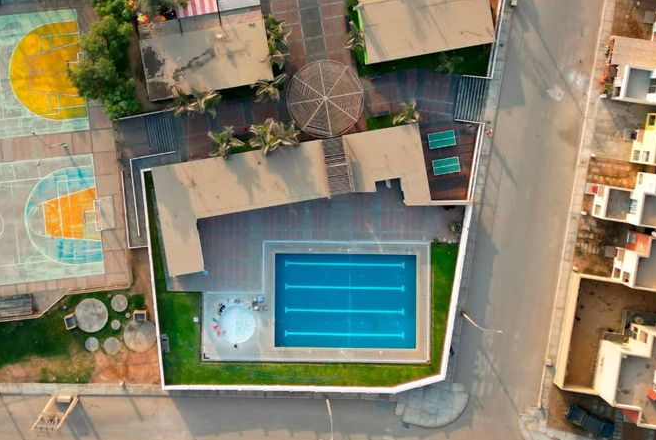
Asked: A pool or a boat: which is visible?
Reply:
pool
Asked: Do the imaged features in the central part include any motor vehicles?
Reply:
No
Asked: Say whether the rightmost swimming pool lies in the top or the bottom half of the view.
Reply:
bottom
